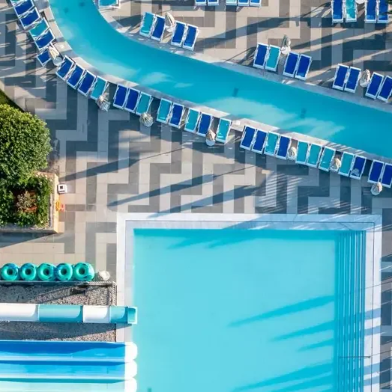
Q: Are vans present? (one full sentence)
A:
No, no van is visible in the scene.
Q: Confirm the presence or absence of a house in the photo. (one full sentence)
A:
No, I find no house anywhere in the image.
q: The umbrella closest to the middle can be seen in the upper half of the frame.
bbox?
[202,130,215,149]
